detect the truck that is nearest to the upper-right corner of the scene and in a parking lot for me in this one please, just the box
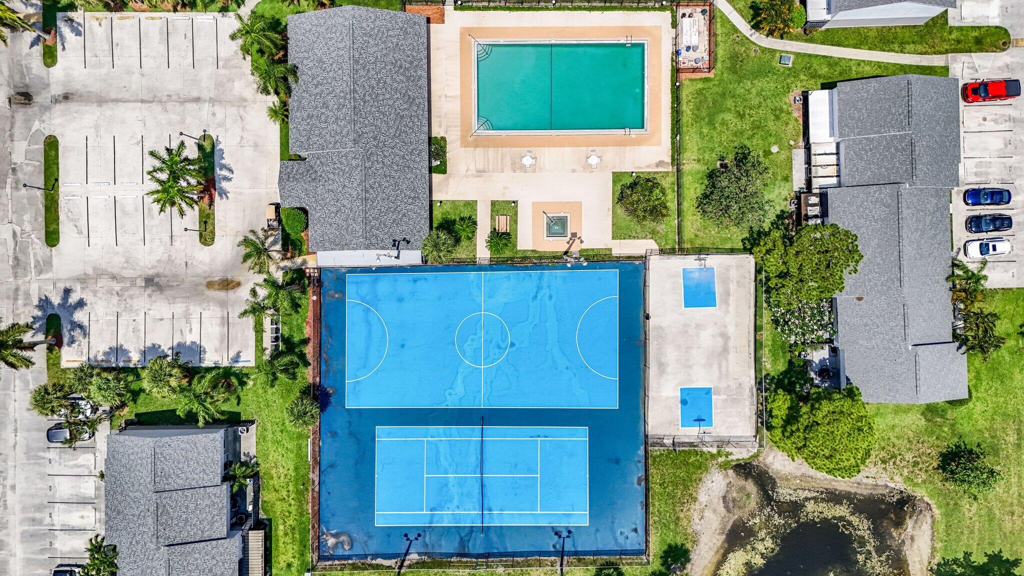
[960,80,1020,104]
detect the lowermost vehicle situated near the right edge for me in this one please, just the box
[962,238,1011,259]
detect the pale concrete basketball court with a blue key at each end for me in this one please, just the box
[647,254,757,444]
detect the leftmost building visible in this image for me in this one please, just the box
[104,424,249,576]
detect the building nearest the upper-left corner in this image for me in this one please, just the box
[278,7,431,266]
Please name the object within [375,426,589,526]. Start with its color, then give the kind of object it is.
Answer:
blue tennis court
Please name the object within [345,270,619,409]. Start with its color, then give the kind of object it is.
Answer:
blue sports court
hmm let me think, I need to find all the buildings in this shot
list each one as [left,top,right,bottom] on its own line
[278,7,431,266]
[104,424,249,576]
[816,75,968,404]
[822,0,956,27]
